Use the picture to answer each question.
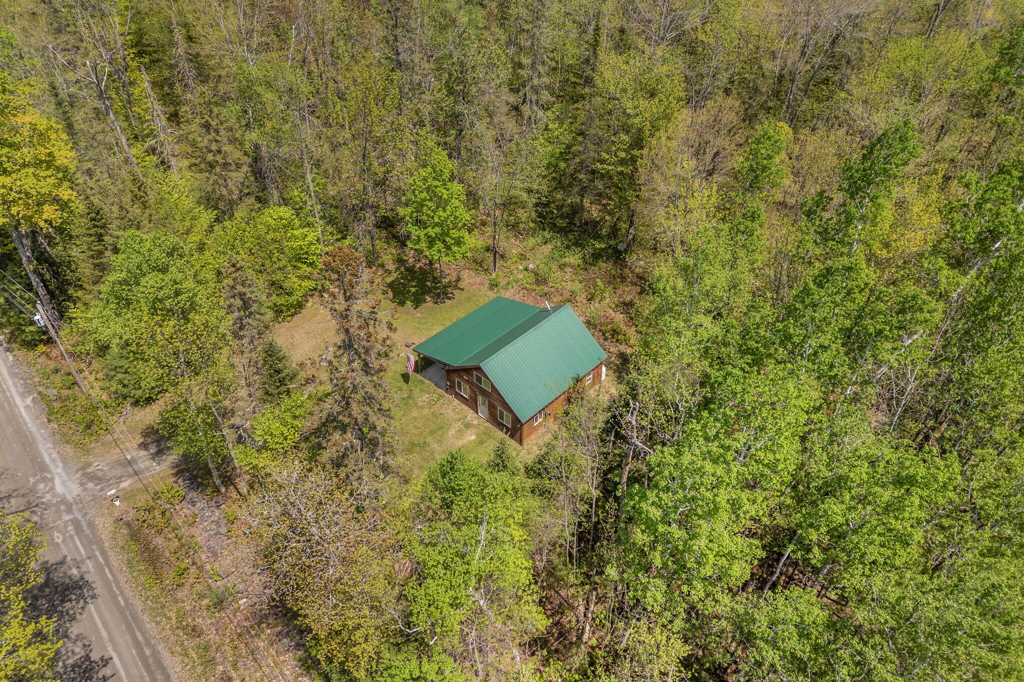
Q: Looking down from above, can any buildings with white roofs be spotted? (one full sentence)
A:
No, the photo shows no building with a white roof.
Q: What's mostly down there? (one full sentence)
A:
The scene is dominated by trees.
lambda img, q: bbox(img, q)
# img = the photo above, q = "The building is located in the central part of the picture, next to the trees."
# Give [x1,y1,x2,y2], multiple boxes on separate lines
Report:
[412,297,608,447]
